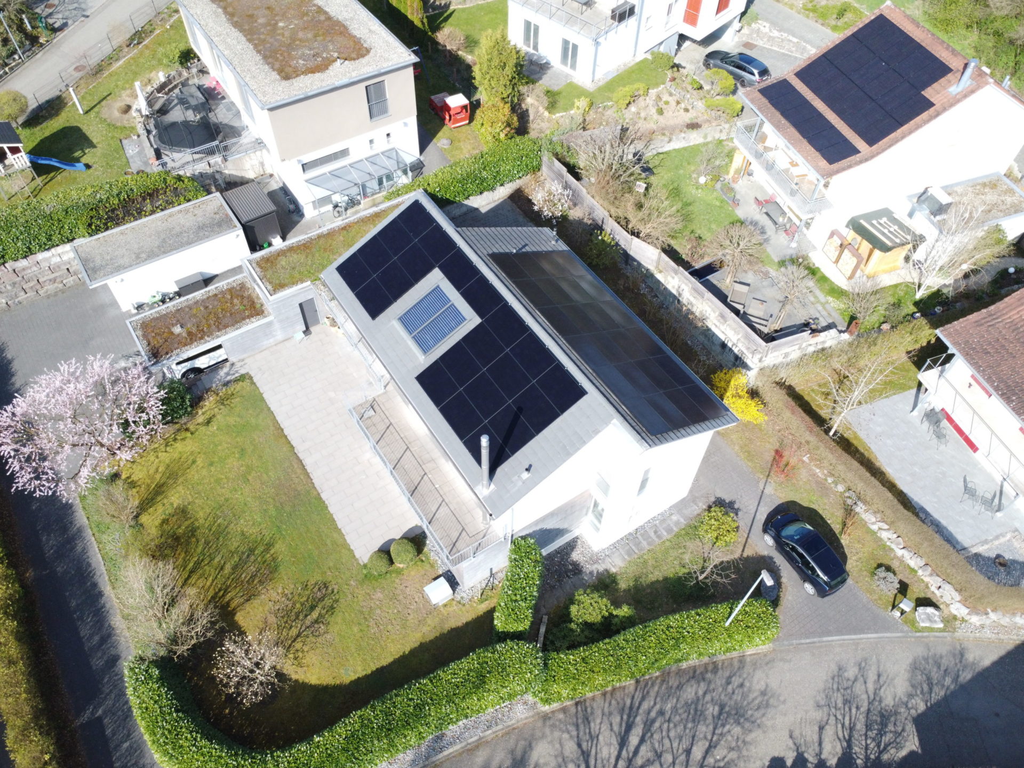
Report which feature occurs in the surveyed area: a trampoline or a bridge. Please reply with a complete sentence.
There is a trampoline in the scene.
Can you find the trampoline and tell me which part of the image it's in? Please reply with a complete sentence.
The trampoline sits in the top left section of the image.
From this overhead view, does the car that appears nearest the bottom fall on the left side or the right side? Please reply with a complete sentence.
The car that appears nearest the bottom sits on the right side.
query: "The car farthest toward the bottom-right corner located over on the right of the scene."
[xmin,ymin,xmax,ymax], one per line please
[761,510,854,600]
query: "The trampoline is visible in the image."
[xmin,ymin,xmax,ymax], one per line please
[142,91,226,165]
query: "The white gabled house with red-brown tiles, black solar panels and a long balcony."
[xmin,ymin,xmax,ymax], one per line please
[728,1,1024,249]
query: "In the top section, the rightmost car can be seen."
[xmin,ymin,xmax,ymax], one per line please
[701,48,769,88]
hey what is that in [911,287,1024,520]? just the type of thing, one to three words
house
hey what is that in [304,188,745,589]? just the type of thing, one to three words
house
